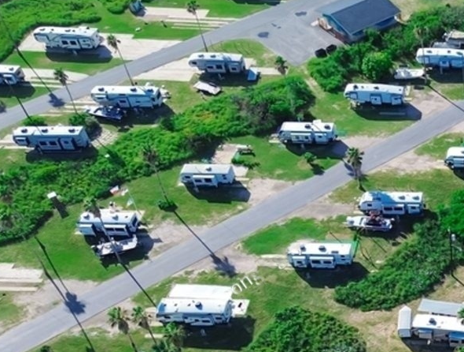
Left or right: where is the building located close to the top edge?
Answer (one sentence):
The building located close to the top edge appears in the right half of the scene.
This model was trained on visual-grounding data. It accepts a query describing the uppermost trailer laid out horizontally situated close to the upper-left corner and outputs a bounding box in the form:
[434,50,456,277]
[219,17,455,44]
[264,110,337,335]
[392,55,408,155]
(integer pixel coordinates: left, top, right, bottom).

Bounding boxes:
[37,25,109,53]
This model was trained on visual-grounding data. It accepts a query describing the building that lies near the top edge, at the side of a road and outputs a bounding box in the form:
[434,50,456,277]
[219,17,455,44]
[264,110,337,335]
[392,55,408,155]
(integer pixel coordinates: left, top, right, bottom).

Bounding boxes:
[318,0,401,43]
